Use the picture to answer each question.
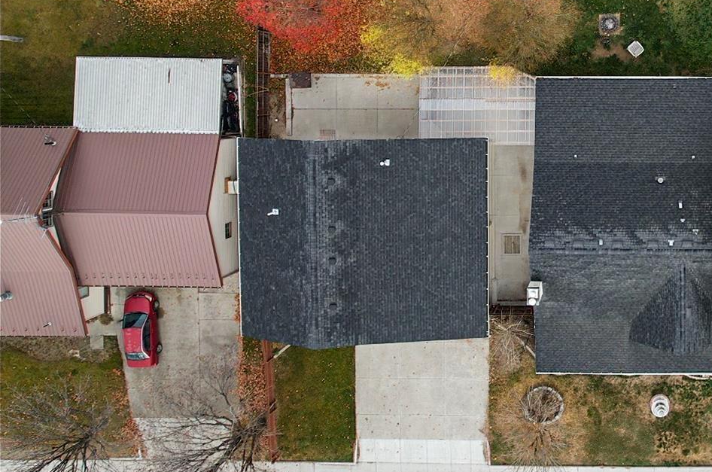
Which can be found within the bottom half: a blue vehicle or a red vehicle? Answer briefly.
red vehicle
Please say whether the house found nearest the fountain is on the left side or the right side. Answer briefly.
right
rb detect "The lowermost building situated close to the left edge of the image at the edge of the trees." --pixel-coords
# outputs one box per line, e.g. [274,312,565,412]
[0,126,238,339]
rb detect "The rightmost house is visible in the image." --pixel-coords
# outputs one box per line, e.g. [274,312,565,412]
[529,76,712,377]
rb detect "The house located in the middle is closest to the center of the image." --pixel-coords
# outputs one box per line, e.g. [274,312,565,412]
[238,133,491,350]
